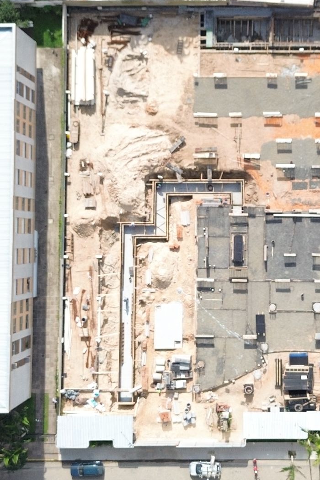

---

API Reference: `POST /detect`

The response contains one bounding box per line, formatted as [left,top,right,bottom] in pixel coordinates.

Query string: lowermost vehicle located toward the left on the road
[72,461,106,479]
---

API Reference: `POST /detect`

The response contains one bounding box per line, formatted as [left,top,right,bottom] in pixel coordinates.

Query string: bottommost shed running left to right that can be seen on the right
[243,408,309,440]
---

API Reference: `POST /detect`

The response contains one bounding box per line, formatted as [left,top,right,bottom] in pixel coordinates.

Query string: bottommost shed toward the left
[57,413,135,448]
